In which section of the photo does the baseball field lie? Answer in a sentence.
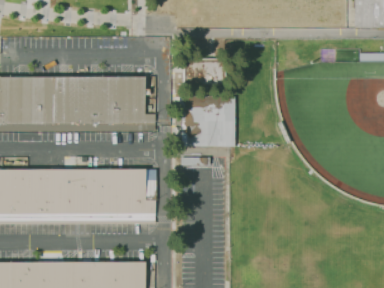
The baseball field is in the right part of the image.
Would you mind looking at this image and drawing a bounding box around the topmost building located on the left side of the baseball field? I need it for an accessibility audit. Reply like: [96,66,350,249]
[186,54,222,85]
